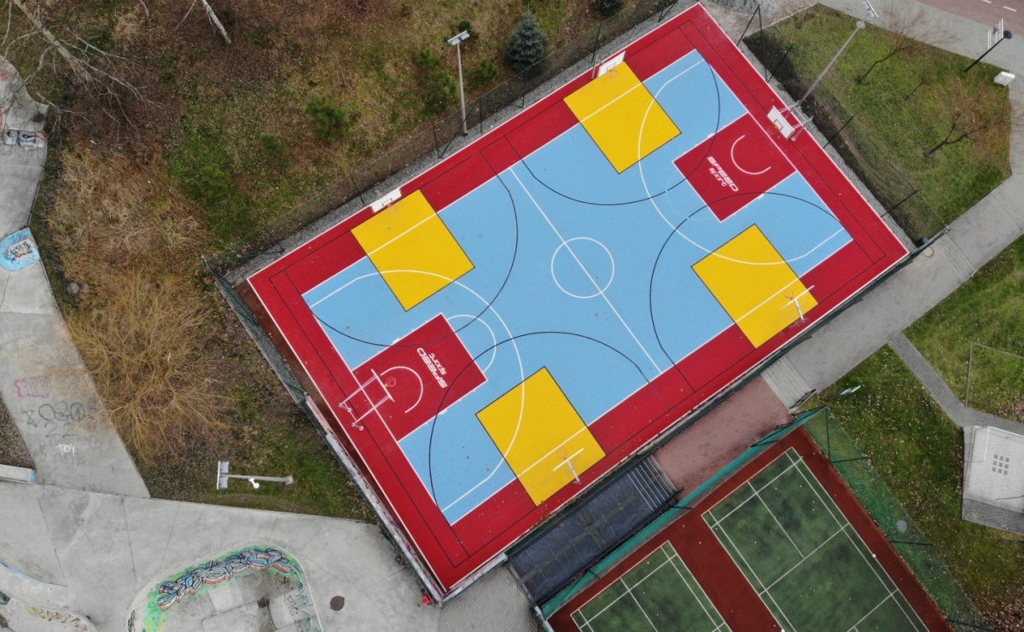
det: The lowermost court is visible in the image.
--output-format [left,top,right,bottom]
[570,541,733,632]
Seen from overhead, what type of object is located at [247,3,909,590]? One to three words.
basketball court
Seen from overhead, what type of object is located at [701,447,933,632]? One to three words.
sports court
